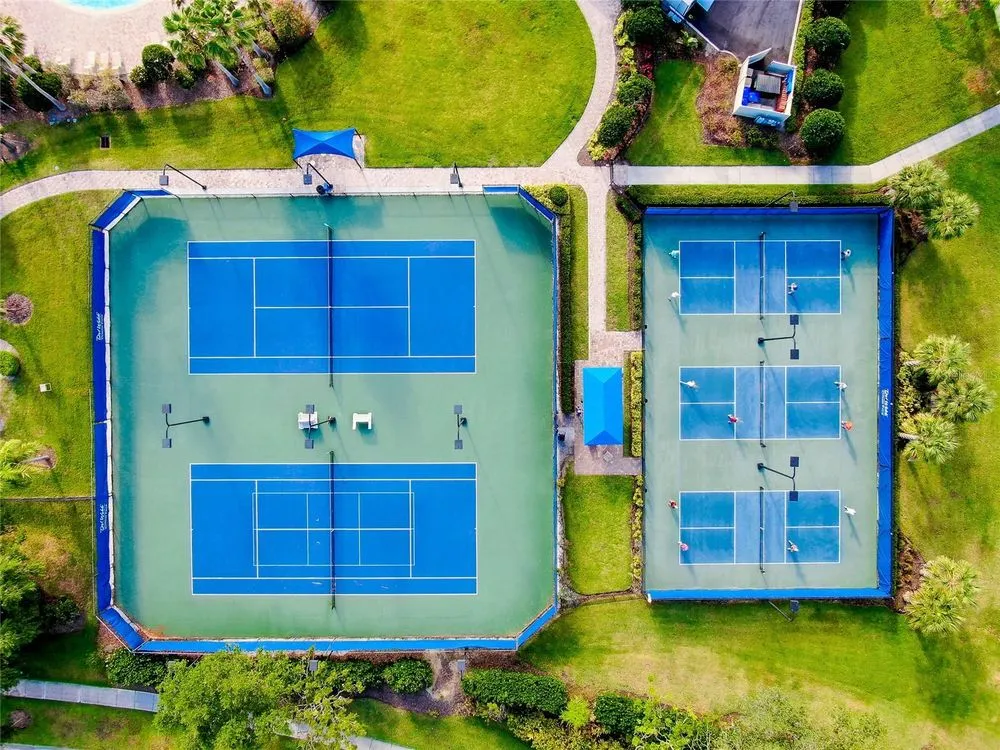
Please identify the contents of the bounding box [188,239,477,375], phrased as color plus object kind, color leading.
blue tennis court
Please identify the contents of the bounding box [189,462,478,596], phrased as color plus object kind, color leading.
blue tennis court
